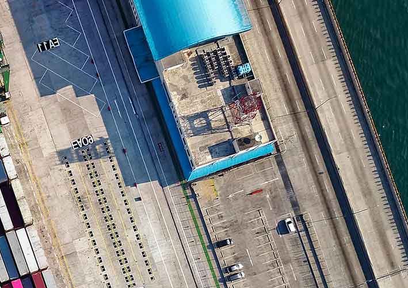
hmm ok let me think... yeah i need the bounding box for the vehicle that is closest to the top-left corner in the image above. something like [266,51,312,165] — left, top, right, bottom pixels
[0,81,13,101]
